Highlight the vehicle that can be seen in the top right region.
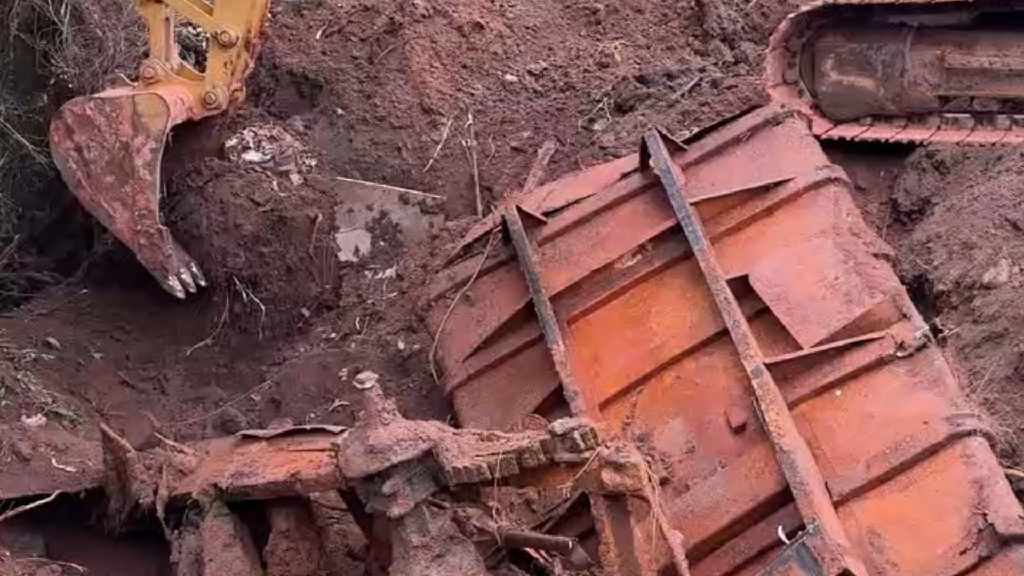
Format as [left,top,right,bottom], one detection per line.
[752,0,1024,150]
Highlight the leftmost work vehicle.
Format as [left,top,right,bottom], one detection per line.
[48,0,290,298]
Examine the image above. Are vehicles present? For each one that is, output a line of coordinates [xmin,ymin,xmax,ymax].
[48,0,290,298]
[752,0,1024,150]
